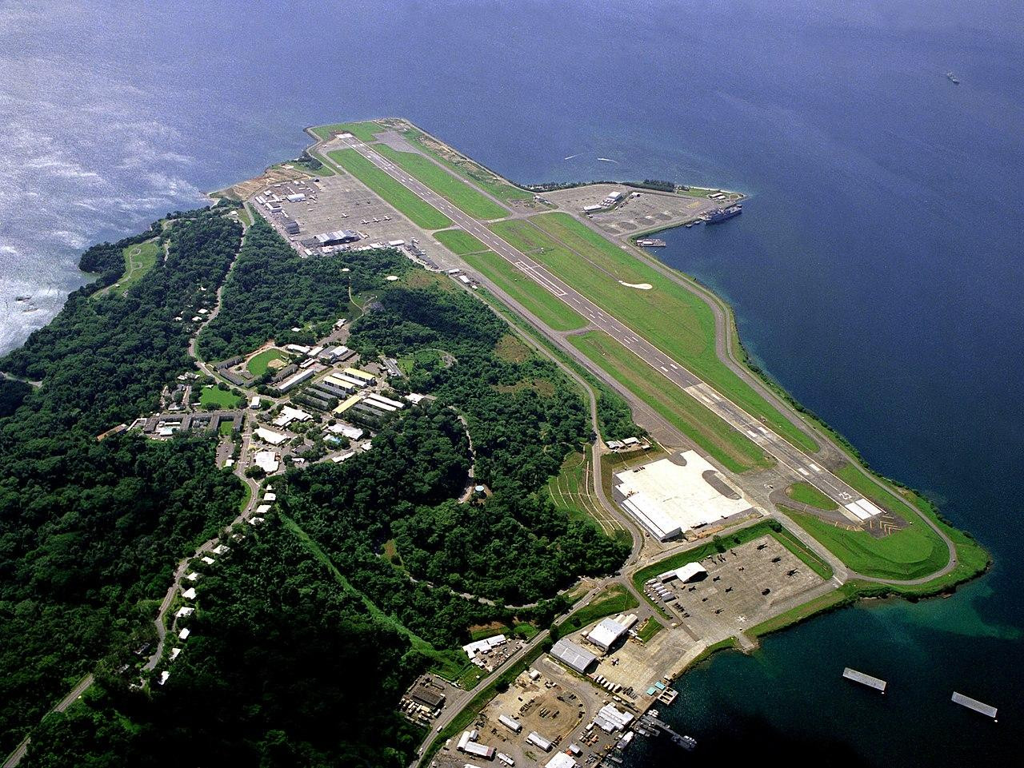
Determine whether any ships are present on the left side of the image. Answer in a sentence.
No, no ship is visible on the left side of the image.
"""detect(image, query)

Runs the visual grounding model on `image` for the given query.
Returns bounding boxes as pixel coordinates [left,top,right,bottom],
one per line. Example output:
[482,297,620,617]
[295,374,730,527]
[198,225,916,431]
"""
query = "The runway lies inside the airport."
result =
[334,131,903,535]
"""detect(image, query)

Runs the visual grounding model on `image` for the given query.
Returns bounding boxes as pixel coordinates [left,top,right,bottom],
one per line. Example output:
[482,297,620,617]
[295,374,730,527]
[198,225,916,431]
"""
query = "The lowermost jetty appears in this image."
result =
[636,714,697,752]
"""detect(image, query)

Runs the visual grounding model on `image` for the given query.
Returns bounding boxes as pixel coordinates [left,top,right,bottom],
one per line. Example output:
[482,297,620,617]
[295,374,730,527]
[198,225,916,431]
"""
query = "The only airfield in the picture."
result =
[248,121,985,768]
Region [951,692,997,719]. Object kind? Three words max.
ship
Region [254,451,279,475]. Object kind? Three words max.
building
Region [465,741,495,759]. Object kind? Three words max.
shed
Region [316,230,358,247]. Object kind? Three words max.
hangar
